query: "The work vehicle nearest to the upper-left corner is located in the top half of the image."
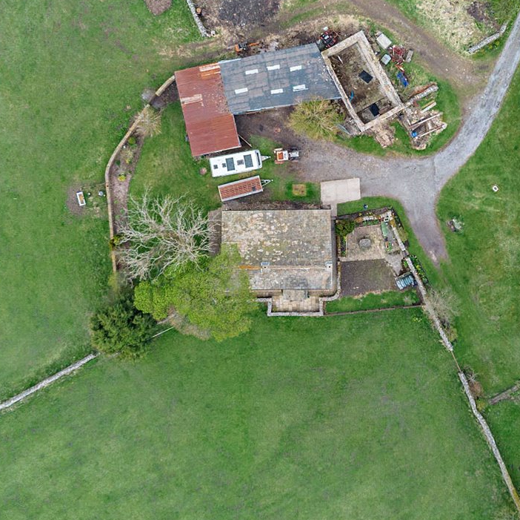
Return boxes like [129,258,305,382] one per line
[234,42,263,56]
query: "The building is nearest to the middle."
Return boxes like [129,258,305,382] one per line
[219,207,335,301]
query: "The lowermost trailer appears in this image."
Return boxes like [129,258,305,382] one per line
[218,174,269,203]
